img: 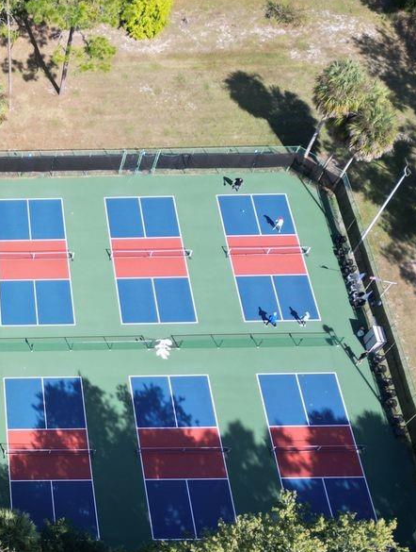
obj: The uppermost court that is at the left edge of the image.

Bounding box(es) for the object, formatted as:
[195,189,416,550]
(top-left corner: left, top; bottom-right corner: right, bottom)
[0,197,77,326]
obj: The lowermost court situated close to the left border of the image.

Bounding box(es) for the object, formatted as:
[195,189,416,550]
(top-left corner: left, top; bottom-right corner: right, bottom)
[2,375,100,541]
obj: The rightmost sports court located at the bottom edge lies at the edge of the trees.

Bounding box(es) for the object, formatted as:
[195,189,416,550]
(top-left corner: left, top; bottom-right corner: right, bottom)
[257,372,381,538]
